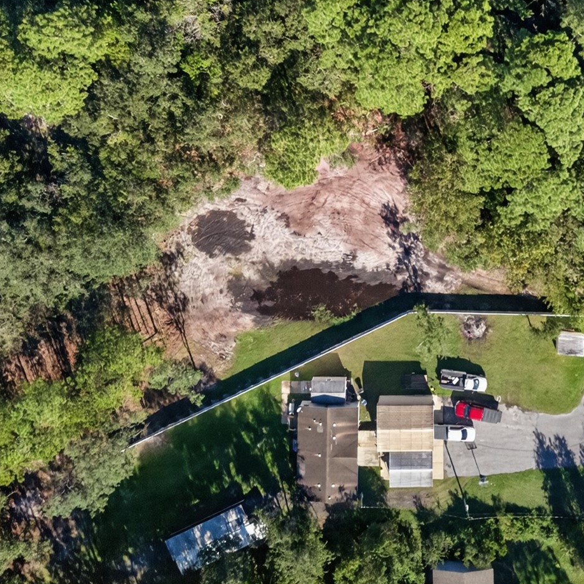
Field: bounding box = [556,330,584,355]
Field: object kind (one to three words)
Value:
shed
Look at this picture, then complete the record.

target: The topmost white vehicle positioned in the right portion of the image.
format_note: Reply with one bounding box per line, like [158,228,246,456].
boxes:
[438,372,488,396]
